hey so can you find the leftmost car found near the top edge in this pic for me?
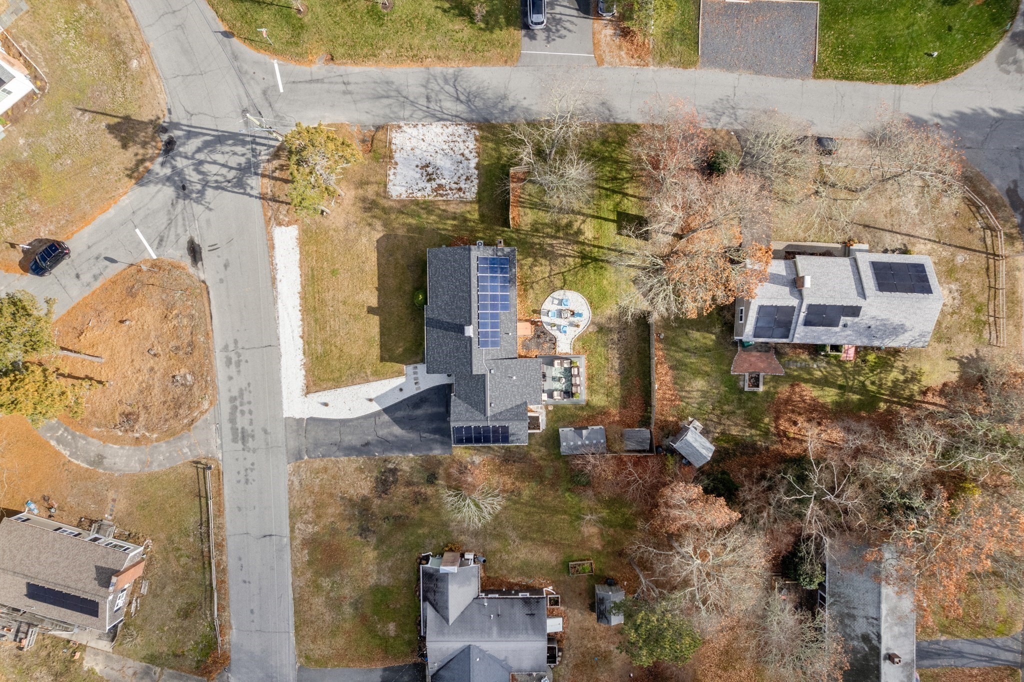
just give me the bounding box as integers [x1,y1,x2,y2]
[527,0,547,29]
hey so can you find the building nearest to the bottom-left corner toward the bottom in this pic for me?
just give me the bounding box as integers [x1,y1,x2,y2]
[0,507,149,633]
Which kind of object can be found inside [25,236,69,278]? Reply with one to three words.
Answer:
car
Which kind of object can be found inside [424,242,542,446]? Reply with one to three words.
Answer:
house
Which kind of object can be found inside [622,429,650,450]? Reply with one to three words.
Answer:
shed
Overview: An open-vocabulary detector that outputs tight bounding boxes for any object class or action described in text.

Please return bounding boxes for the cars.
[598,0,617,13]
[527,0,547,29]
[816,129,840,158]
[25,236,69,278]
